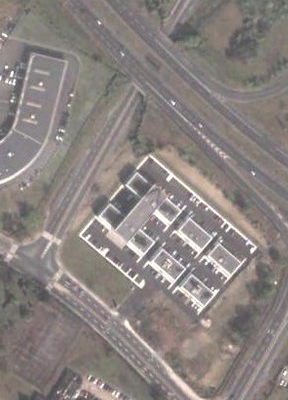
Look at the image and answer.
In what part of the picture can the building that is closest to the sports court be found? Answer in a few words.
bottom left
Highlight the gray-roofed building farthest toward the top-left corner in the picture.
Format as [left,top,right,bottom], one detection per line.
[0,54,68,183]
